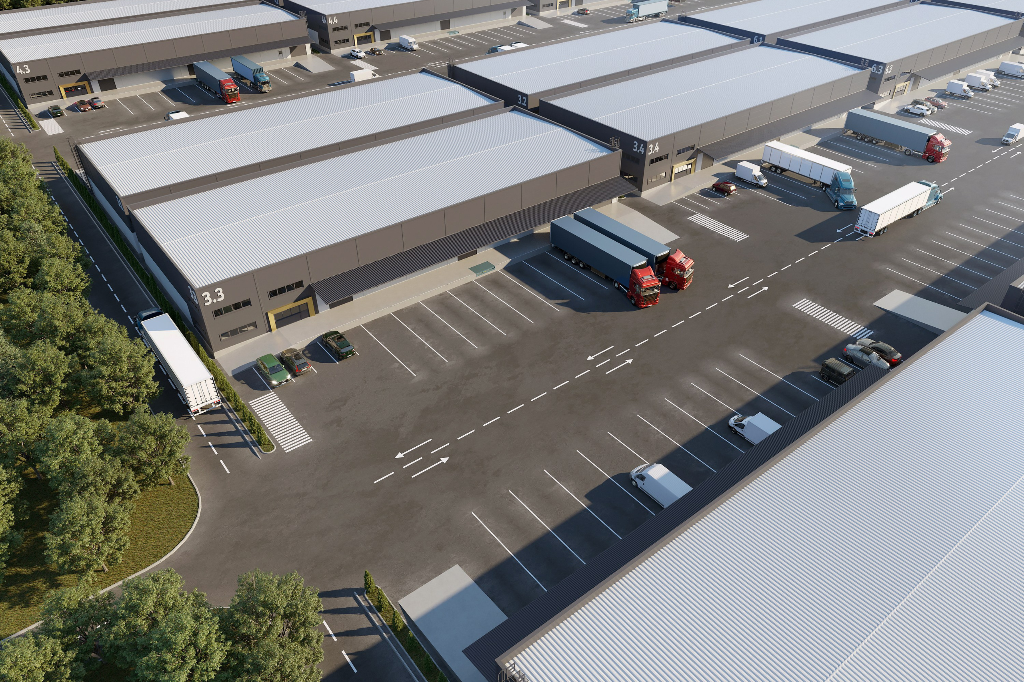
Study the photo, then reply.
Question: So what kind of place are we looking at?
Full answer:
What you see here is an industrial area.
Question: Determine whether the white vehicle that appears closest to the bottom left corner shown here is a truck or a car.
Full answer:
The white vehicle that appears closest to the bottom left corner appears to be a truck.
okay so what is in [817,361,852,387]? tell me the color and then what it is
black car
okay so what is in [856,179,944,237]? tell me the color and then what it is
white truck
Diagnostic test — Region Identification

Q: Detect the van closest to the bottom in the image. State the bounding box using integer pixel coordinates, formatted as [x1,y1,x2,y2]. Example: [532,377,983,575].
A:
[629,464,692,508]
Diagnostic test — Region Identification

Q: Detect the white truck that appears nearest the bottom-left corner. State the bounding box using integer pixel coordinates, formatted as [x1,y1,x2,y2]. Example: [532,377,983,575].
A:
[137,306,221,415]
